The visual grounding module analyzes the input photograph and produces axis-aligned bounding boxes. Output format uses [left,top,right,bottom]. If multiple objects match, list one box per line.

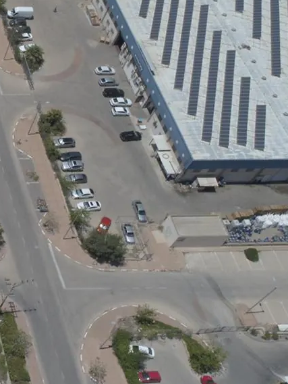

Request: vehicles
[8,5,35,18]
[133,343,157,360]
[109,98,133,108]
[9,18,27,27]
[76,199,102,211]
[62,149,84,161]
[60,158,85,172]
[118,130,143,141]
[18,43,39,53]
[93,66,116,76]
[71,187,95,199]
[132,199,149,222]
[137,369,165,384]
[97,215,114,232]
[108,107,132,117]
[64,173,90,184]
[13,24,33,34]
[54,136,77,148]
[97,77,120,87]
[101,87,126,98]
[120,223,136,246]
